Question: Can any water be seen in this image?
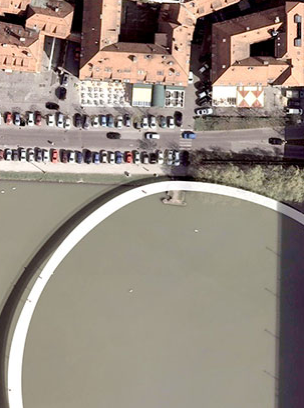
Yes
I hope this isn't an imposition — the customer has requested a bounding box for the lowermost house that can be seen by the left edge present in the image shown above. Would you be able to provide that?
[0,22,43,73]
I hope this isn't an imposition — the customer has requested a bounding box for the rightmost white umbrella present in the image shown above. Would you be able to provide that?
[250,87,263,107]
